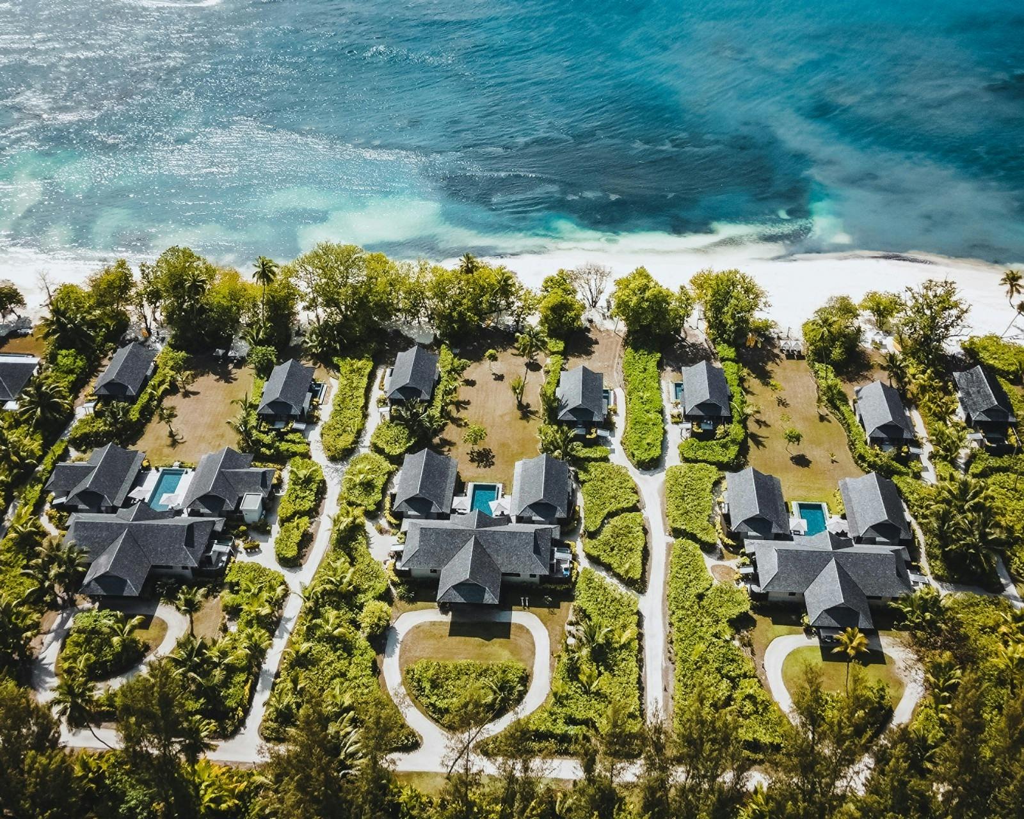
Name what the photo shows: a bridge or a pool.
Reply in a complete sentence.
Visible in the photo is a pool.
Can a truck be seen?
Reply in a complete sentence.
No, no truck is visible in the view.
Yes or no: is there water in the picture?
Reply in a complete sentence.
Yes, there is water in the image.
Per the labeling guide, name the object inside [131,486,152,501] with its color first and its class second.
white umbrella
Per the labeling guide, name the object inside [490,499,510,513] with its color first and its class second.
white umbrella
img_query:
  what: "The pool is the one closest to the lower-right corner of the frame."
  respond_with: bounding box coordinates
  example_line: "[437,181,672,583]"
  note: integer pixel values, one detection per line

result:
[790,500,829,543]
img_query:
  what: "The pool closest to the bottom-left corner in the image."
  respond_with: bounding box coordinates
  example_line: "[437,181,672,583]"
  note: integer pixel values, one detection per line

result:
[133,465,193,517]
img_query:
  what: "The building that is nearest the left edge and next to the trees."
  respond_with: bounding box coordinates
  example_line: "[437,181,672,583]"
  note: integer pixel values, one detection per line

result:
[0,355,42,414]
